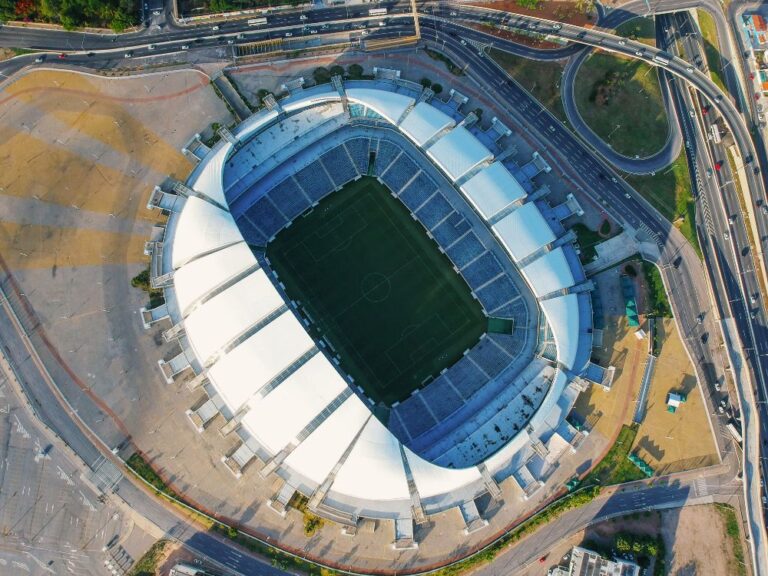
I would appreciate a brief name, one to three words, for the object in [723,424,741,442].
vehicle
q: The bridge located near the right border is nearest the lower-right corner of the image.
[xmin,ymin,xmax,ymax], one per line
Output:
[697,214,768,576]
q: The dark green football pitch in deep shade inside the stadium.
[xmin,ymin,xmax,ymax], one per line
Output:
[265,175,489,409]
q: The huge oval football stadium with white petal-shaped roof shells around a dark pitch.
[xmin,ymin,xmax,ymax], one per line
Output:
[140,67,616,549]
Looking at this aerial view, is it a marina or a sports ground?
sports ground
